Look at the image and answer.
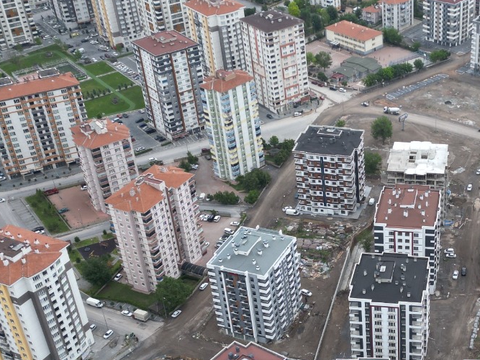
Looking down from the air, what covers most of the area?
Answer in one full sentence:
The bulk of the photo consists of buildings.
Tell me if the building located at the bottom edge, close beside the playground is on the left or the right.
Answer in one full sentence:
The building located at the bottom edge, close beside the playground sits on the left side.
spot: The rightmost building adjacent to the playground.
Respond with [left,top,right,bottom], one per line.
[105,165,205,286]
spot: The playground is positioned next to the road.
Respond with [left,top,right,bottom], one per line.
[74,235,116,259]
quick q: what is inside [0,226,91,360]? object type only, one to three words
building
